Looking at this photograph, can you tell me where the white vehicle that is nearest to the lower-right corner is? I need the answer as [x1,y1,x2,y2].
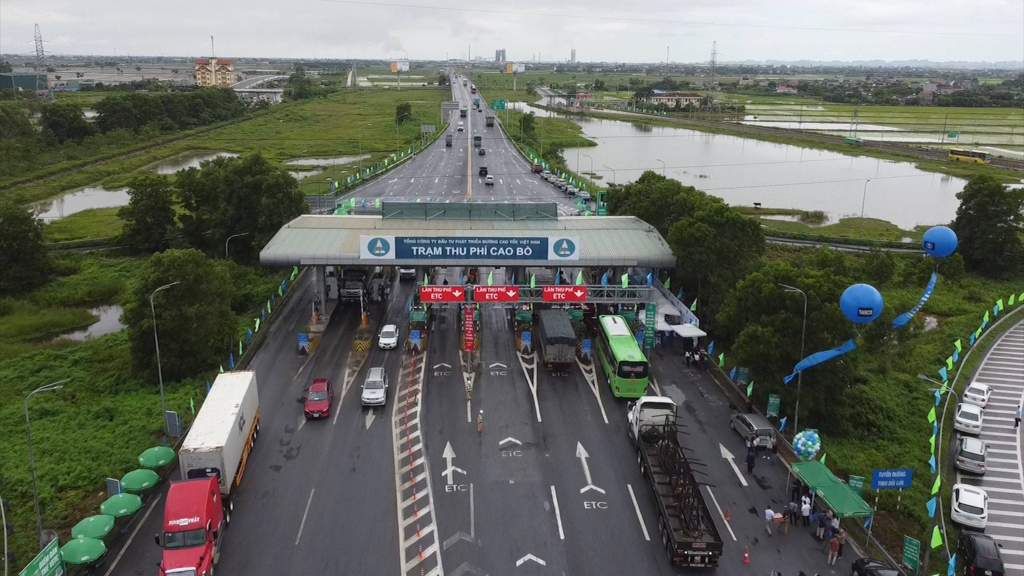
[950,480,992,527]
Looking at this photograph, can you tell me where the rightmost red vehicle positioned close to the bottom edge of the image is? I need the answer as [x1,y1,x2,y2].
[145,412,257,576]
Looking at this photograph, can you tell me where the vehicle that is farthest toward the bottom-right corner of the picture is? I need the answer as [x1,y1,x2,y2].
[965,530,1018,576]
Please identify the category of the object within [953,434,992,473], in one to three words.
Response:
car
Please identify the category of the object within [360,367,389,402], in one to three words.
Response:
car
